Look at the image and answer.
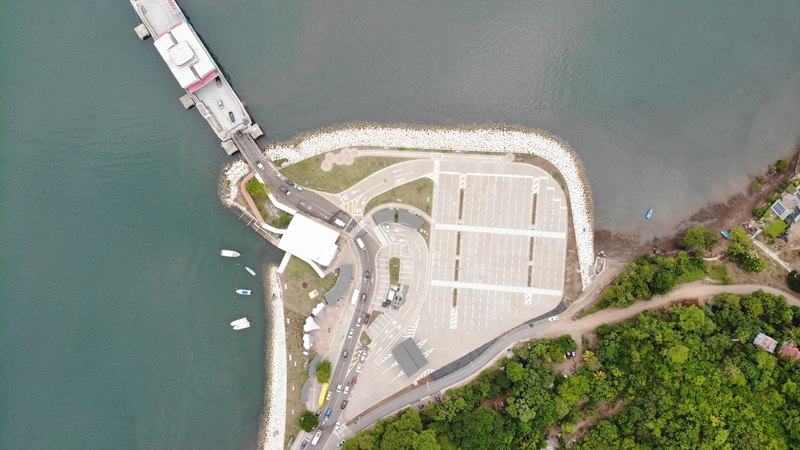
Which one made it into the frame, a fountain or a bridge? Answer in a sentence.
There is a bridge in the scene.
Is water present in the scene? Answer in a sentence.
Yes, the picture does contain water.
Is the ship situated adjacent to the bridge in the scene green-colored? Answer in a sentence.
No, the ship situated adjacent to the bridge is actually white.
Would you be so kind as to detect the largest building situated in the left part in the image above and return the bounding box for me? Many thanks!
[277,212,339,267]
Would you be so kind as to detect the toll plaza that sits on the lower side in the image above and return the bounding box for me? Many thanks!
[391,338,428,377]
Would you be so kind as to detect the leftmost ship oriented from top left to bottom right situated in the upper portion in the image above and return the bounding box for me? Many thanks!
[130,0,252,141]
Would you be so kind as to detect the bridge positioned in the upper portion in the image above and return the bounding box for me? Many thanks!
[230,130,270,172]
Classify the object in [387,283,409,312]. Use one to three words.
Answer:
building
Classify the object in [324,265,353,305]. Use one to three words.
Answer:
building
